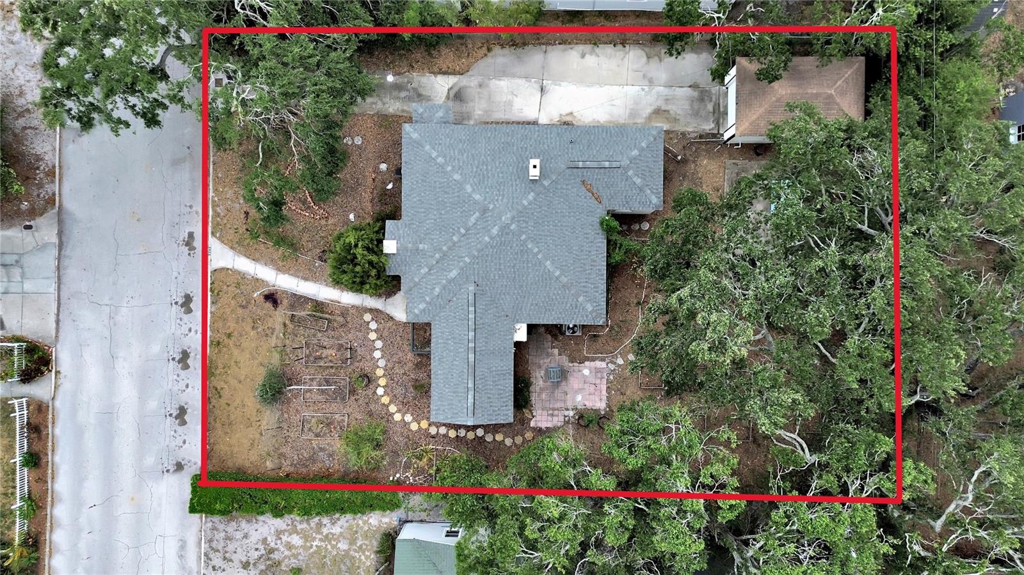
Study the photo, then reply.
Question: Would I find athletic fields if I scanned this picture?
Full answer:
No, no athletic field is visible in the view.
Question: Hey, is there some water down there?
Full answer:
No, there is no water in the image.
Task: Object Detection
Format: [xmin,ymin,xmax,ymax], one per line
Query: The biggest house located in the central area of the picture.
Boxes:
[383,102,664,427]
